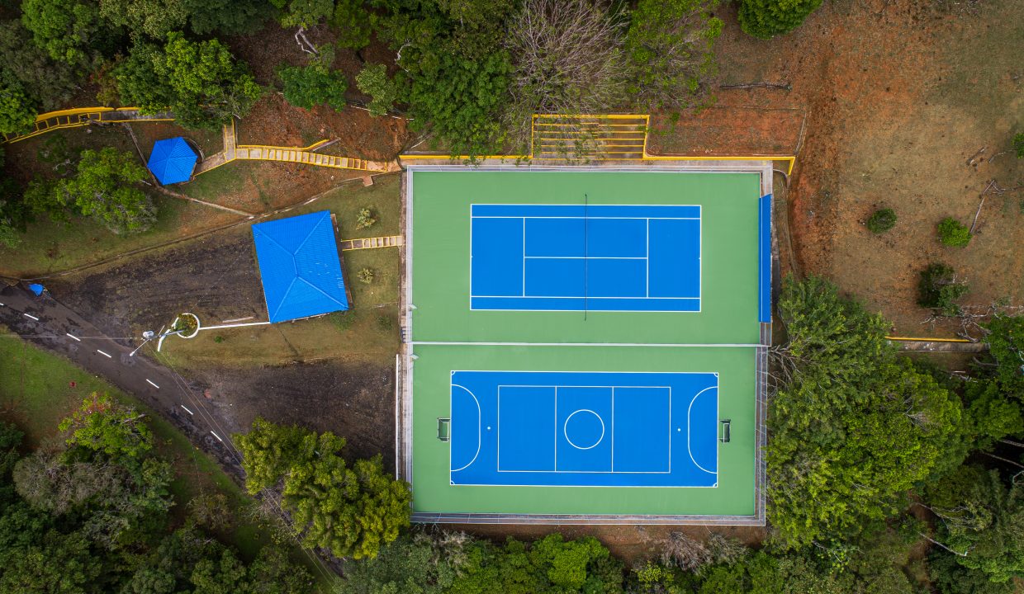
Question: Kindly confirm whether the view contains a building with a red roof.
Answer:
No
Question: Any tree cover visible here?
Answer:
Yes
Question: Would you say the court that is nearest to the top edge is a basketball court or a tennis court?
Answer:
tennis court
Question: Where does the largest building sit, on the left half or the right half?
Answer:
left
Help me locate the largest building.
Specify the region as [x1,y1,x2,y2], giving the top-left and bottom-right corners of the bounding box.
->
[251,209,354,324]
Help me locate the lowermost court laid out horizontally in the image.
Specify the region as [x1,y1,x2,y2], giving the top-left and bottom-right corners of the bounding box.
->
[412,344,755,516]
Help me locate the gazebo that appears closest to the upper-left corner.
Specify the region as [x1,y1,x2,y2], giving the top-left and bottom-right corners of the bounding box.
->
[147,136,207,188]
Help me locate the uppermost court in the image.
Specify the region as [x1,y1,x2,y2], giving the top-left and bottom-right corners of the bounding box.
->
[412,172,760,346]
